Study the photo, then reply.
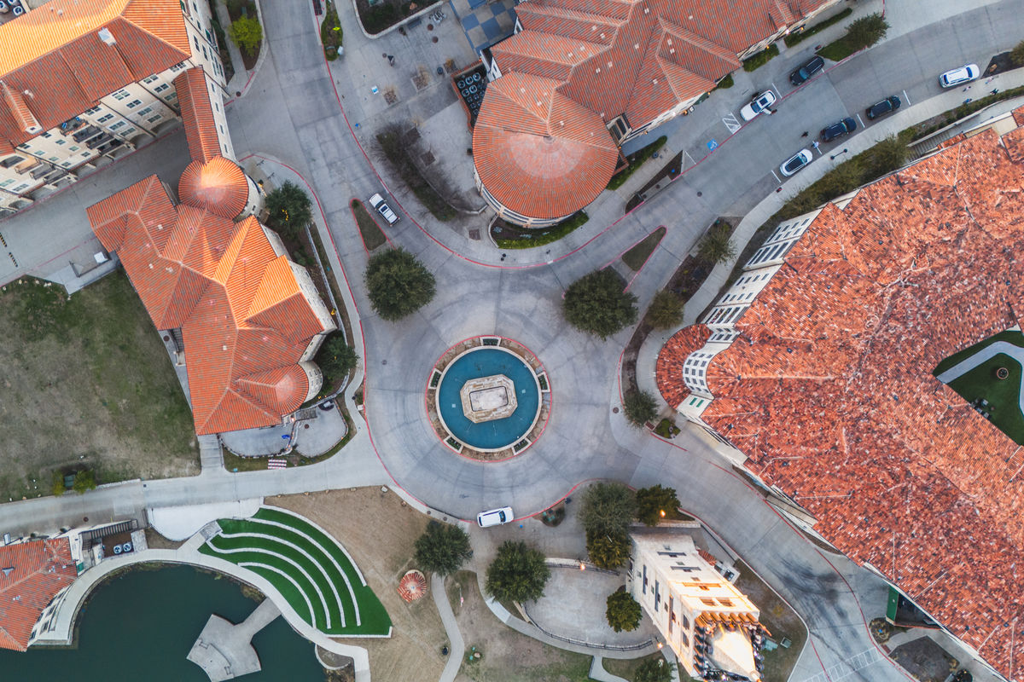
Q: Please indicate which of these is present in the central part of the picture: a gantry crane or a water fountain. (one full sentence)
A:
Visible in the central part of the picture is a water fountain.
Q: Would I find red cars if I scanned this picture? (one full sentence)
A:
No, there isn't any red car down there.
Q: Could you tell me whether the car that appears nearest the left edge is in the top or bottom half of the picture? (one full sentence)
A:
The top half of the photo is where the car that appears nearest the left edge is.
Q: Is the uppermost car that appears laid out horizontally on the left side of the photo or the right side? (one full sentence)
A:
It is on the right.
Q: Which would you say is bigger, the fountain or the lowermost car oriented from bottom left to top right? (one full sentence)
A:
The car is smaller than the fountain.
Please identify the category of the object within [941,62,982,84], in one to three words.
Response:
car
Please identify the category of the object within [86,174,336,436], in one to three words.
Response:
house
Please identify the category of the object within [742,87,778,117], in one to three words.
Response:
car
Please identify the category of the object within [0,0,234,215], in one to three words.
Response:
building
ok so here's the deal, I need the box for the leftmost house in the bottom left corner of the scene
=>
[0,529,100,653]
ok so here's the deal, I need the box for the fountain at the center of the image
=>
[424,334,552,461]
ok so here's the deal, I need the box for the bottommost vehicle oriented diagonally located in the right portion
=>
[781,147,815,175]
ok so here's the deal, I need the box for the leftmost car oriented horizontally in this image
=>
[477,508,513,527]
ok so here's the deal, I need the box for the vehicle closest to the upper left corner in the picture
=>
[367,191,399,225]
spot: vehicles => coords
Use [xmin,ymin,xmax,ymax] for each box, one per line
[821,114,859,140]
[941,62,982,84]
[742,87,778,117]
[866,92,904,117]
[477,508,513,527]
[791,52,827,82]
[367,191,399,225]
[781,147,815,175]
